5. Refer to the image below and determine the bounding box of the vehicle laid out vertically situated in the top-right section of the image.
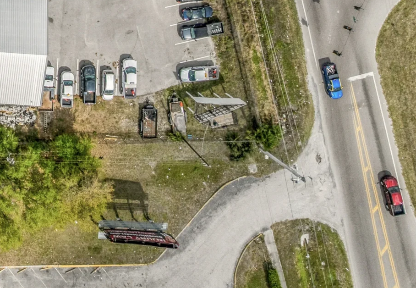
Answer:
[321,59,344,98]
